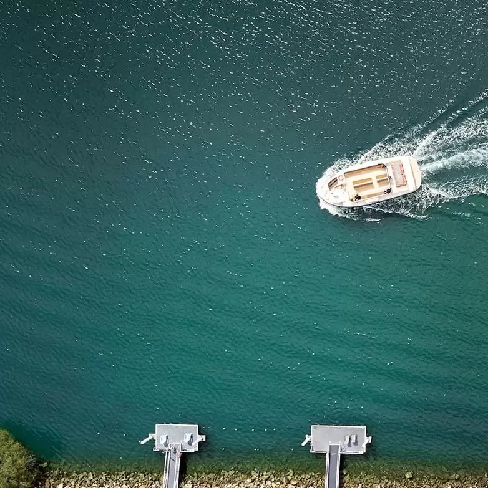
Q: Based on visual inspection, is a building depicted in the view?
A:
No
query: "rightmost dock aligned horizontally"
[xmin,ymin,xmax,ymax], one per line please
[305,424,372,454]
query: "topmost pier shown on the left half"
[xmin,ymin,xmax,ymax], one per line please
[148,423,206,452]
